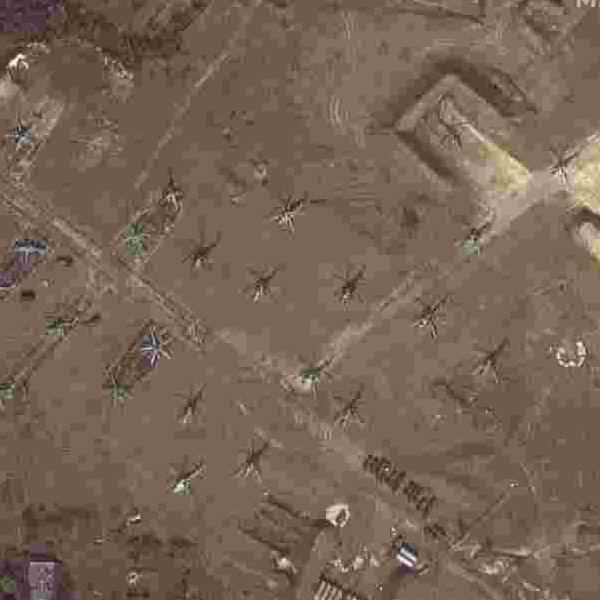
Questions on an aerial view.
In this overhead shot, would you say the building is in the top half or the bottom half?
bottom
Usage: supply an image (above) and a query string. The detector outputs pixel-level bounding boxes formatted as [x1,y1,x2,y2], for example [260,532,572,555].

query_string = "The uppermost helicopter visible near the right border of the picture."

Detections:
[545,153,579,182]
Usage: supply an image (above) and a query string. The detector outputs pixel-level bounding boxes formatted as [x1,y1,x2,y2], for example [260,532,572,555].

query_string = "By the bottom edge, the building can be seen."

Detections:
[29,561,58,600]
